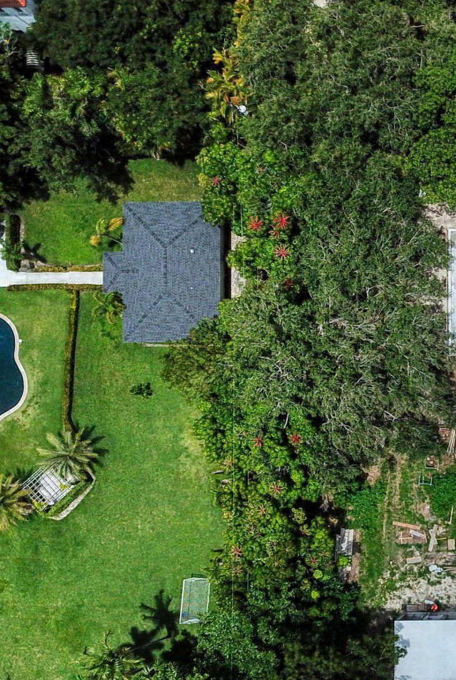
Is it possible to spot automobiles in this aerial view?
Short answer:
No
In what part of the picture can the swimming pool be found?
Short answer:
left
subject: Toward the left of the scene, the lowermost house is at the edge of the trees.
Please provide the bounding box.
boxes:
[102,200,231,347]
